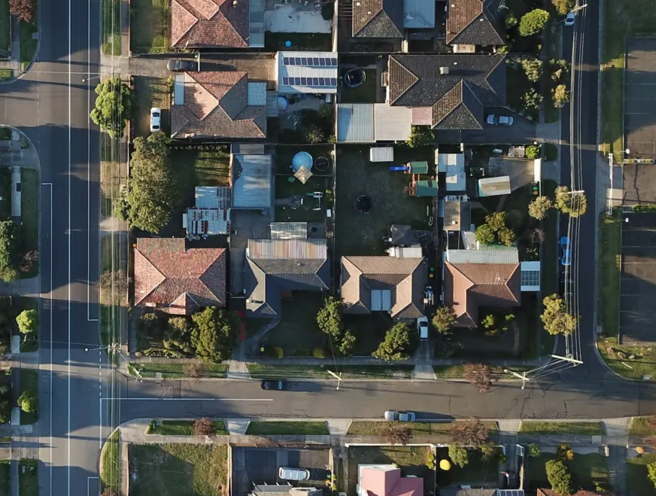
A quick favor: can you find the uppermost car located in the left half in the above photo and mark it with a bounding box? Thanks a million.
[165,58,197,72]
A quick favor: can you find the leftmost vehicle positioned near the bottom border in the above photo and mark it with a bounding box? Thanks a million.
[278,467,309,481]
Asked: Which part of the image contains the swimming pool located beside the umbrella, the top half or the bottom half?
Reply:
top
